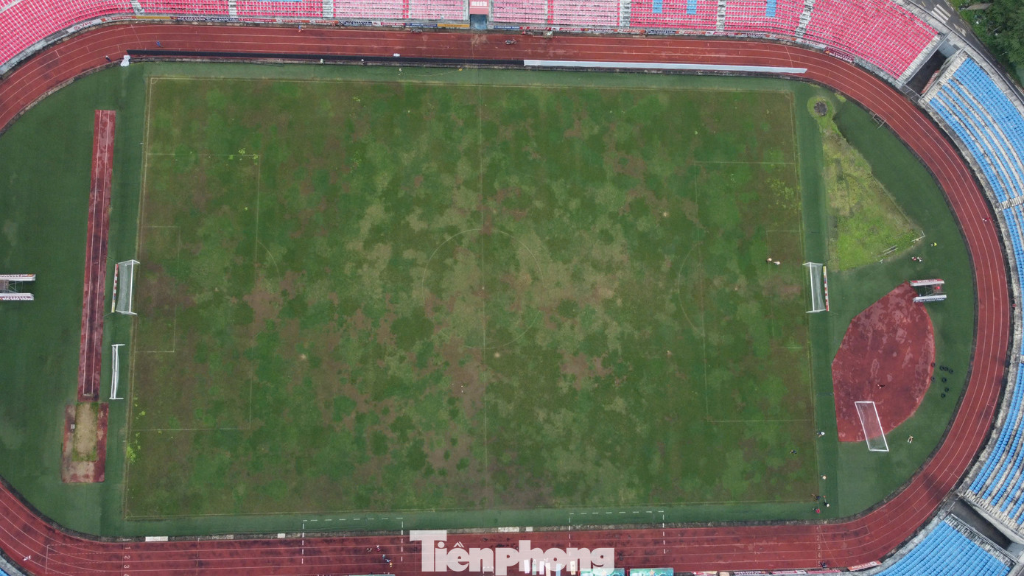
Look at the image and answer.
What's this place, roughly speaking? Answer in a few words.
sports ground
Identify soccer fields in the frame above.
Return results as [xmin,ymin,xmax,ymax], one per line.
[120,76,824,520]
